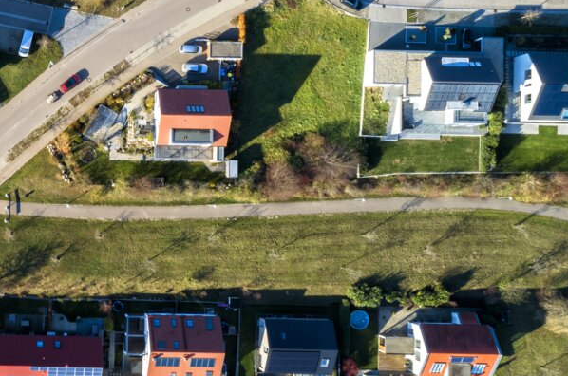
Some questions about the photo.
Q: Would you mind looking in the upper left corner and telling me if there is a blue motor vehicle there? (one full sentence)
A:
Yes, I can see a blue motor vehicle in the upper left corner.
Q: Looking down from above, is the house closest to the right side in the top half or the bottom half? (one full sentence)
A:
The top half of the photo is where the house closest to the right side is.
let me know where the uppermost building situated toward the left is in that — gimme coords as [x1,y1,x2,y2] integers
[205,41,243,62]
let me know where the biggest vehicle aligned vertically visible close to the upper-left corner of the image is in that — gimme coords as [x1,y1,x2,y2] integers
[18,26,36,59]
